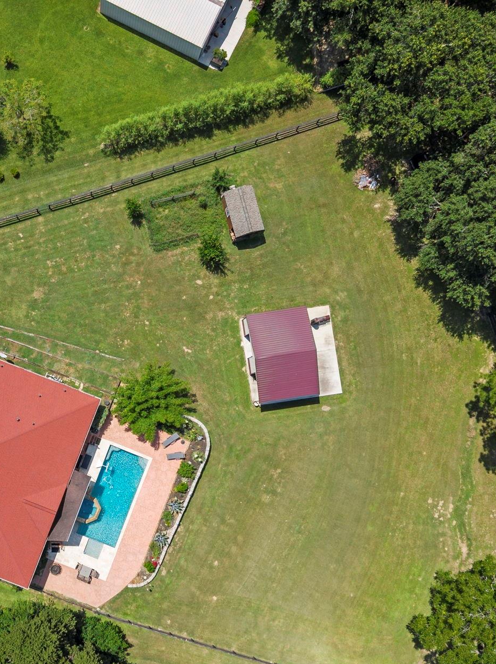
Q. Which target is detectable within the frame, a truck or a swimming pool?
swimming pool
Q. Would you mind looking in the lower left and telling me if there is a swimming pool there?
Yes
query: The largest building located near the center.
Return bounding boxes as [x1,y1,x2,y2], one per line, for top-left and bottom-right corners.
[236,306,320,408]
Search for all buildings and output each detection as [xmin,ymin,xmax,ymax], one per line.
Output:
[236,306,320,408]
[103,0,226,61]
[0,360,102,590]
[221,185,265,241]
